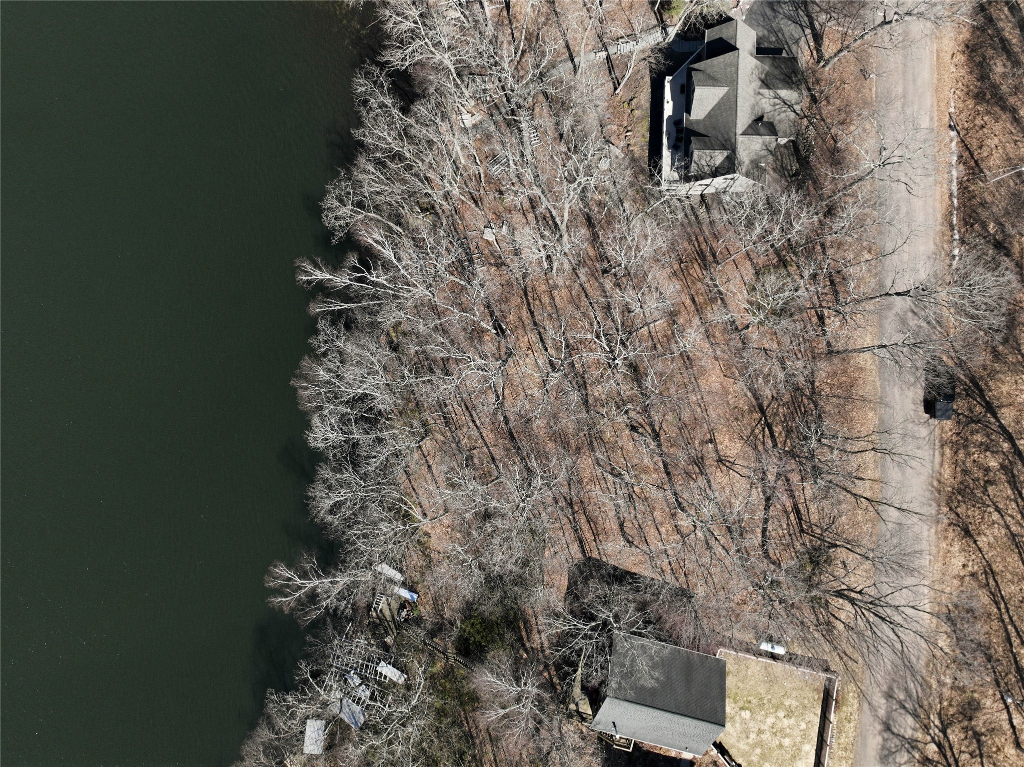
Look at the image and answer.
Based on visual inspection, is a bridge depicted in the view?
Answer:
No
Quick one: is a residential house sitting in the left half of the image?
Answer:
No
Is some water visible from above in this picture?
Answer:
Yes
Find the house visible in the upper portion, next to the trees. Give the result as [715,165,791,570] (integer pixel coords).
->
[677,20,806,193]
